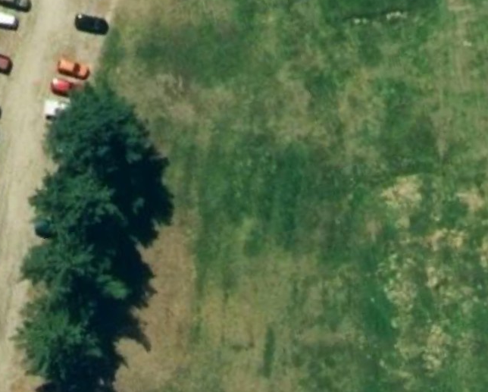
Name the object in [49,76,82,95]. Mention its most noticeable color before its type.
red car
